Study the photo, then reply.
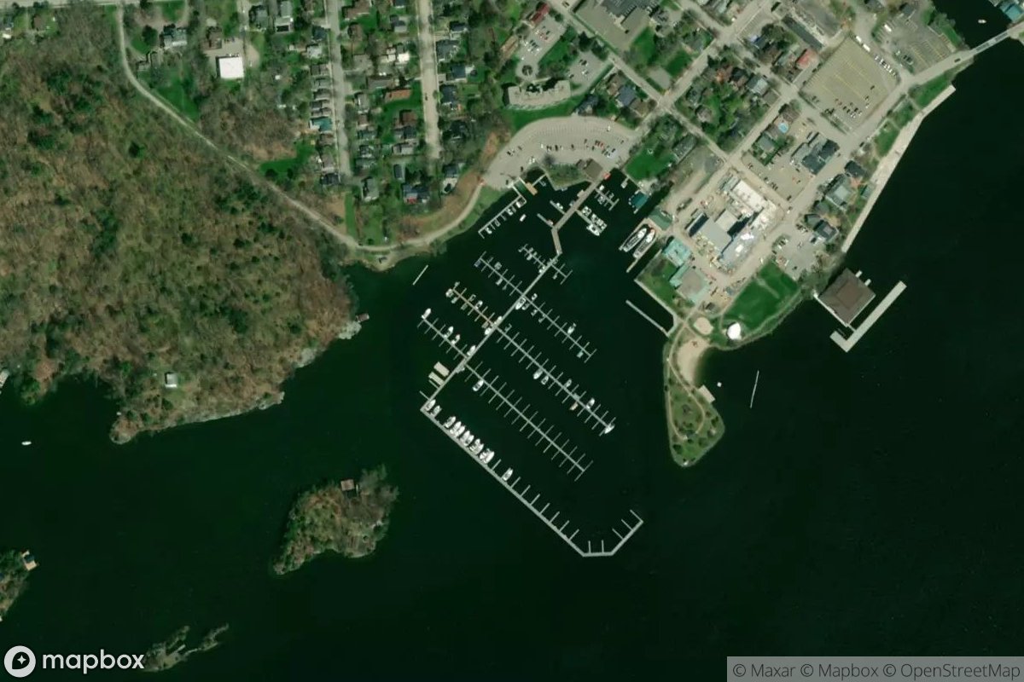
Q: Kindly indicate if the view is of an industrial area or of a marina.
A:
marina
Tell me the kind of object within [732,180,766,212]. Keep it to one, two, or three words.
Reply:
building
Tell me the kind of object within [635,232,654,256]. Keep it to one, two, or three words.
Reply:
boat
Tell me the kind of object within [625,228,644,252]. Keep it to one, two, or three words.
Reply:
boat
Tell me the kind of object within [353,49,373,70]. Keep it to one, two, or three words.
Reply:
house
